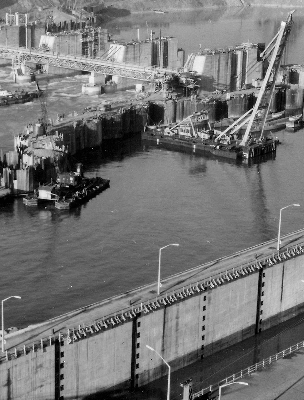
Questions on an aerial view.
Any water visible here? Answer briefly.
Yes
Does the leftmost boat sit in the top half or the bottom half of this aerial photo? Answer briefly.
top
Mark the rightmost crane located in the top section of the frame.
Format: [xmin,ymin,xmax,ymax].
[141,4,299,159]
